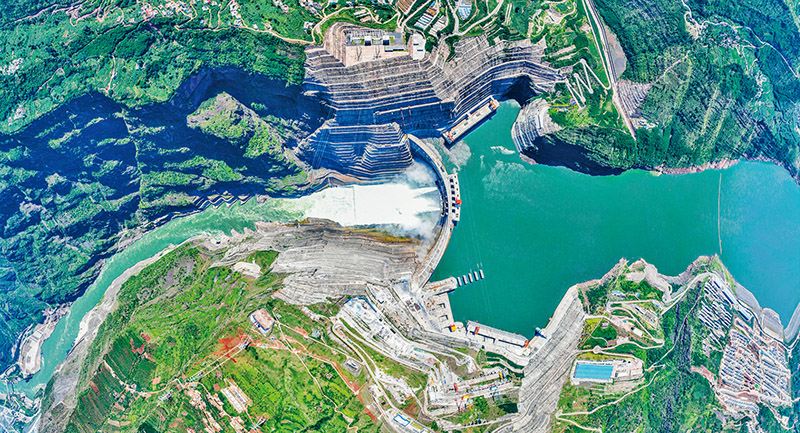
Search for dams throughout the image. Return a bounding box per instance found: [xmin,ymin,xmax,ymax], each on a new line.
[402,130,460,292]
